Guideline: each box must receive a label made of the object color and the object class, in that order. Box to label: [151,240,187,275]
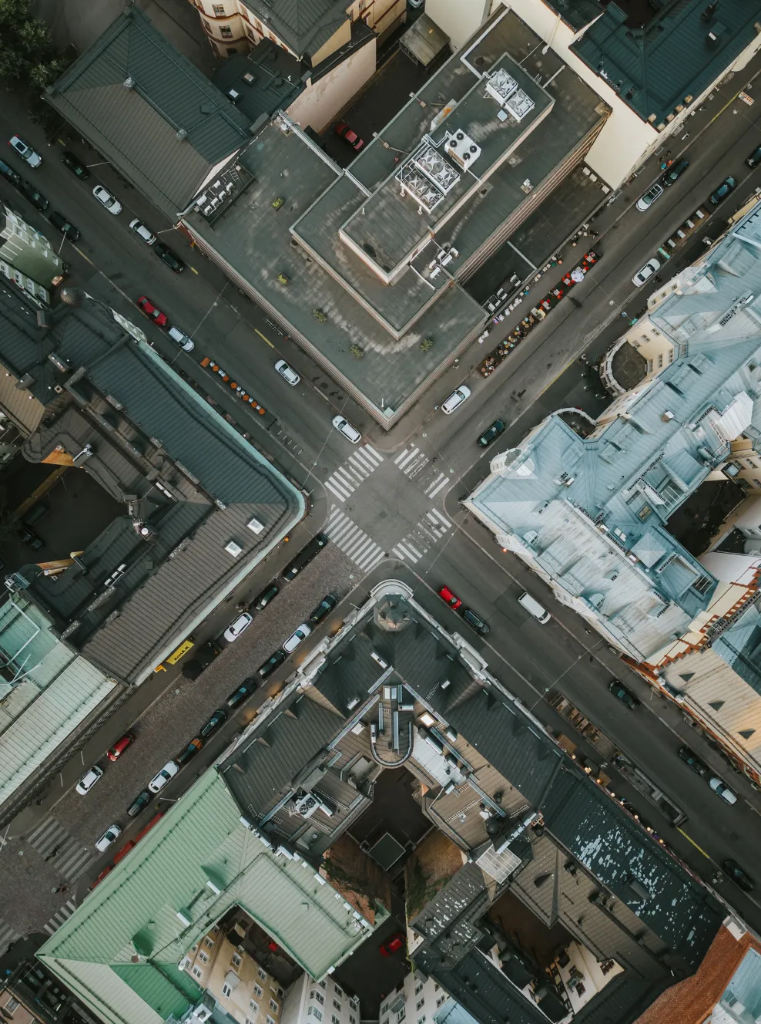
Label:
black car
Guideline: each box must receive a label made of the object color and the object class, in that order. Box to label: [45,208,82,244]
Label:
black car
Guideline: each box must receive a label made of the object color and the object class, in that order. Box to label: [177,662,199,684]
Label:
black umbrella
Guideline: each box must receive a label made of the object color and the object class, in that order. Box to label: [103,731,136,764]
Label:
red car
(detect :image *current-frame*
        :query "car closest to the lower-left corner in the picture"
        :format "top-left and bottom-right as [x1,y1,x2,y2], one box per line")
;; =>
[90,820,126,856]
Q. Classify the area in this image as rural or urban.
urban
